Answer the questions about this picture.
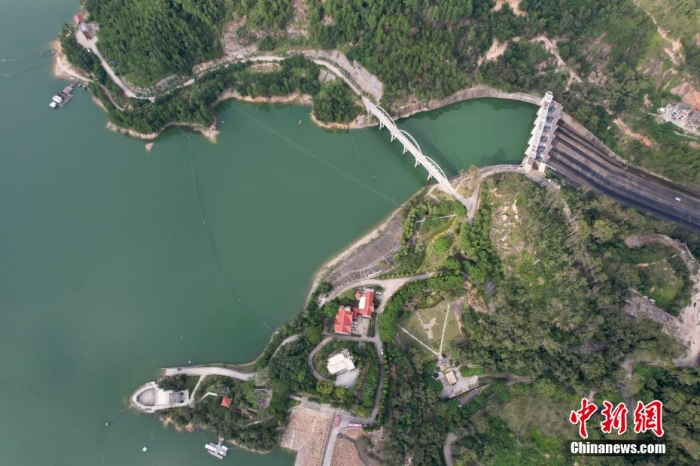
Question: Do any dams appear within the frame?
Yes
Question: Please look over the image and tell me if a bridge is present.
Yes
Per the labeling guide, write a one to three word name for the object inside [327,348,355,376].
house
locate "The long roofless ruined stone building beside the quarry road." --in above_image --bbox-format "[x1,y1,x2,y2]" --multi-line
[626,290,685,332]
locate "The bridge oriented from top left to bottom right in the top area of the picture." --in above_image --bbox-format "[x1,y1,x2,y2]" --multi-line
[359,94,468,204]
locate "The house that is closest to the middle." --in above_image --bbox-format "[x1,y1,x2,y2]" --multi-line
[334,288,374,333]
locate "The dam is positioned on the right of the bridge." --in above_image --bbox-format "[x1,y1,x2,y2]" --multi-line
[520,84,564,167]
